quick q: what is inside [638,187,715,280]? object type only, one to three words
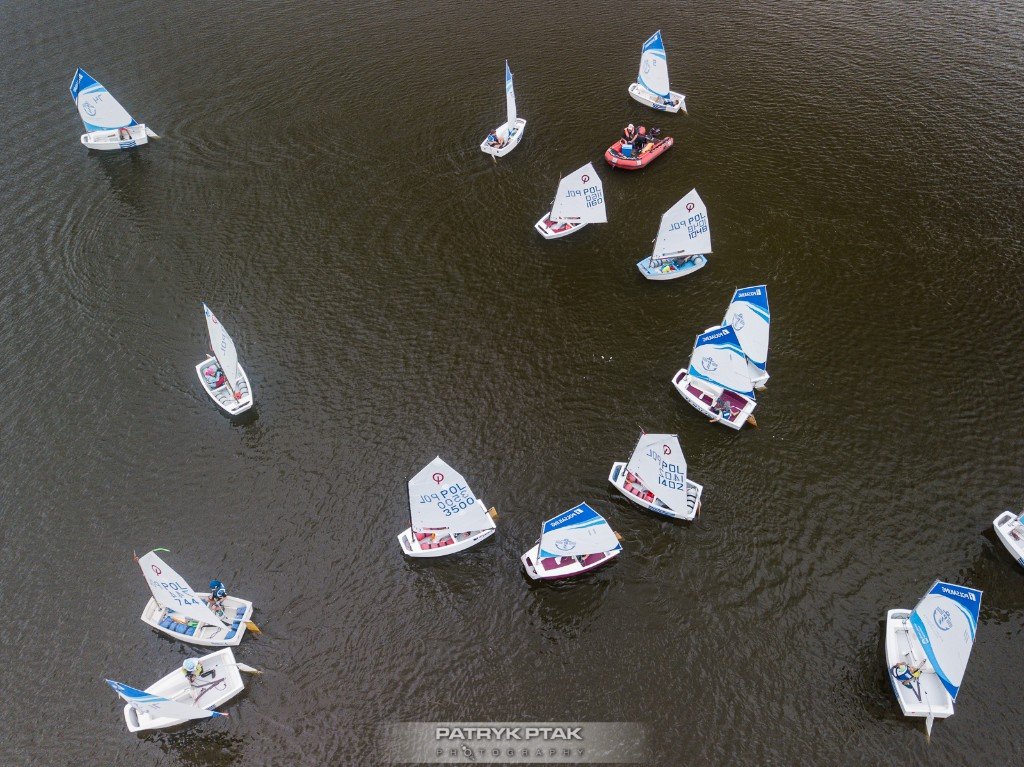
boat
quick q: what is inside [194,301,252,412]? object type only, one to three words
boat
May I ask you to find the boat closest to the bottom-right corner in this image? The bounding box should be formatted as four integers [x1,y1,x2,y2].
[883,573,985,741]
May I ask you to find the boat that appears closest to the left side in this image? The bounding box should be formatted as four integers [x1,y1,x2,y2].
[66,66,159,149]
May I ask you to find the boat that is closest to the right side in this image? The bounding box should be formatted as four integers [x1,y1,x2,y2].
[995,510,1024,566]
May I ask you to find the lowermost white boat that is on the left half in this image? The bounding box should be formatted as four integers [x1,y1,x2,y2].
[106,648,265,733]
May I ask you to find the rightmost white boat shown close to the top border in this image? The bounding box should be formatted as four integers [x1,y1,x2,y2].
[628,29,689,113]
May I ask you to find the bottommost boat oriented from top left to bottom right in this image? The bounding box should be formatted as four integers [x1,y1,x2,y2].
[132,549,266,646]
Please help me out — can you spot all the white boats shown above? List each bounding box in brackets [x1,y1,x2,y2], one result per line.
[194,301,252,412]
[638,187,715,280]
[707,282,772,398]
[883,573,985,741]
[673,324,758,430]
[106,648,265,733]
[608,431,703,519]
[66,66,159,149]
[628,29,689,113]
[132,549,266,646]
[536,160,609,239]
[481,59,527,162]
[995,510,1024,566]
[398,455,504,558]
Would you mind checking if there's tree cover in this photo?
No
